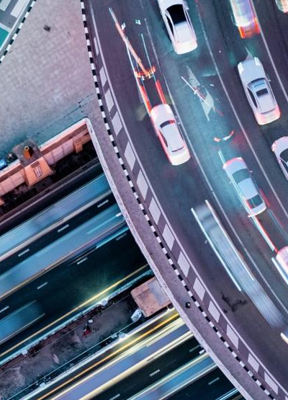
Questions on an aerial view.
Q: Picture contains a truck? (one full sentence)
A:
Yes, there is a truck in the image.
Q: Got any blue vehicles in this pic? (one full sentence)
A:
Yes, there's a blue vehicle down there.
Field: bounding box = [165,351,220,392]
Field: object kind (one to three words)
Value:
car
